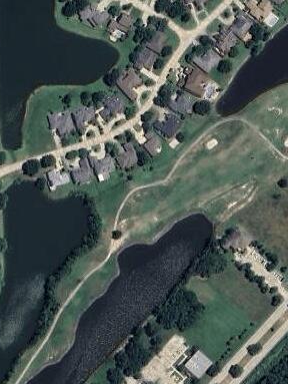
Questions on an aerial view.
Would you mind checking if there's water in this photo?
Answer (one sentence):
Yes, water can be seen from above here.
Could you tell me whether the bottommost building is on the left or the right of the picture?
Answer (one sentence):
The bottommost building is on the right side of the image.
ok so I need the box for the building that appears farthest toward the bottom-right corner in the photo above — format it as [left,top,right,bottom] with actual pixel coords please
[185,350,213,378]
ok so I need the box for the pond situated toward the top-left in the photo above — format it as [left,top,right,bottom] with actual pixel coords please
[0,0,119,149]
